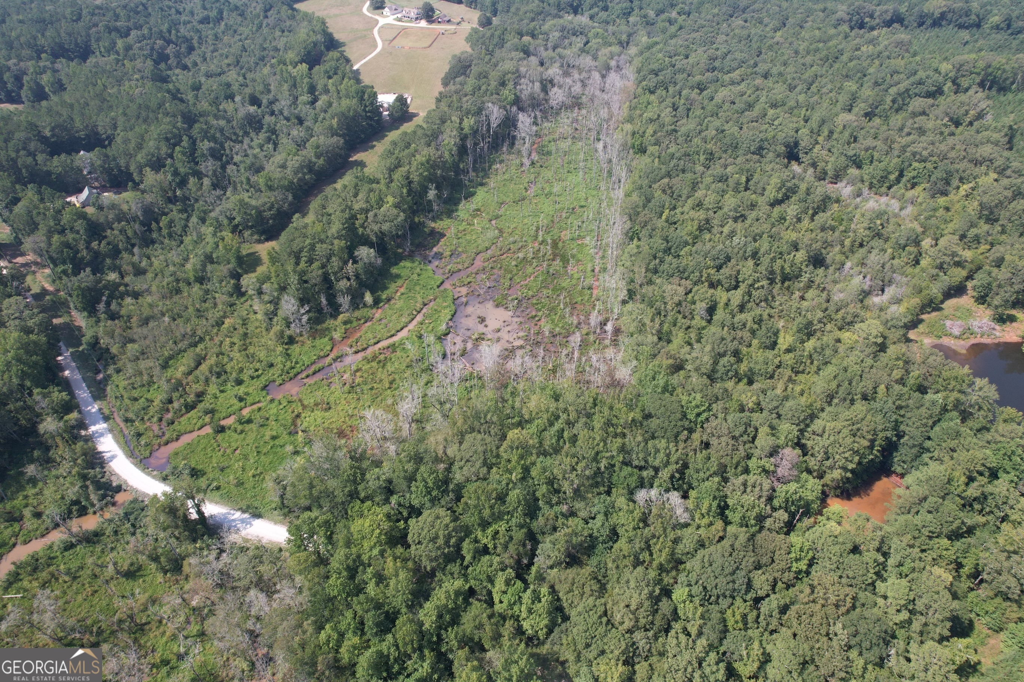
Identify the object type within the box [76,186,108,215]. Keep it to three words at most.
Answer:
house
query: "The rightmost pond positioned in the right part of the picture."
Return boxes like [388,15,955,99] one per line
[814,453,905,522]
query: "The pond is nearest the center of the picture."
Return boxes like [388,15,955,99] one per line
[437,294,529,372]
